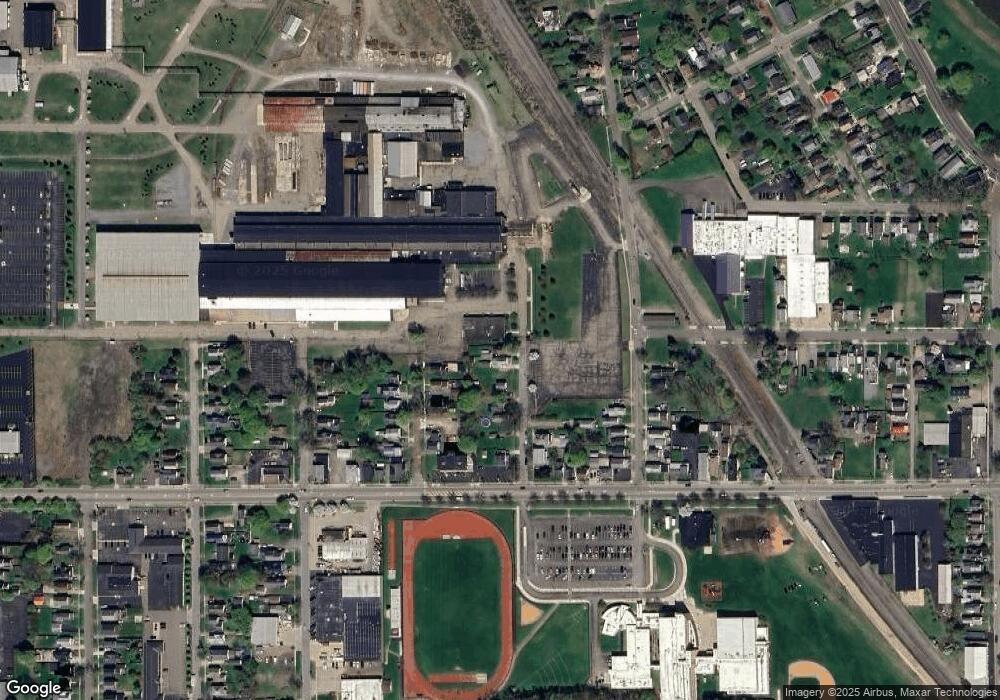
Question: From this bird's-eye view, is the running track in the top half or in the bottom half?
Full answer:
It is in the bottom half that the running track appears.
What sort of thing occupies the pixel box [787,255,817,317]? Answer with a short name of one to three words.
building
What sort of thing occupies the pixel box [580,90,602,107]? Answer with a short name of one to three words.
house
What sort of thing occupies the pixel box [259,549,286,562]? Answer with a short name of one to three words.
house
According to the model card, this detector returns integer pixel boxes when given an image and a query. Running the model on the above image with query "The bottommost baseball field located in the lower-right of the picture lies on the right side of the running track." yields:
[784,660,836,700]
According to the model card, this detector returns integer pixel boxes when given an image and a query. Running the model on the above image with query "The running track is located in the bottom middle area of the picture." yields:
[402,511,513,700]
